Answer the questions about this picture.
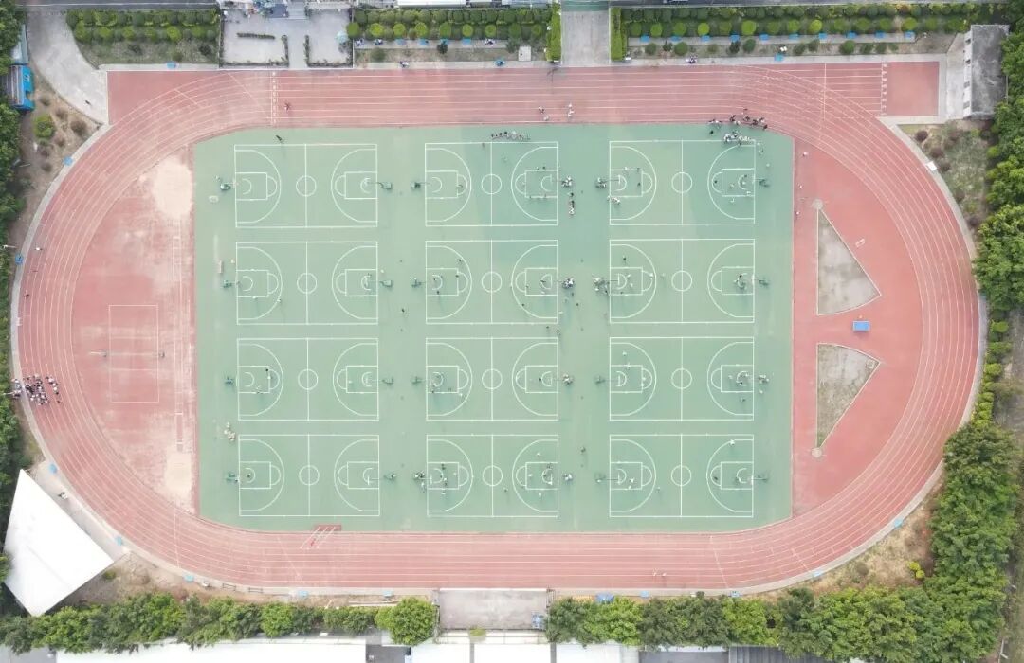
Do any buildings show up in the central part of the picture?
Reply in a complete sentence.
No, no building is visible in the central part of the picture.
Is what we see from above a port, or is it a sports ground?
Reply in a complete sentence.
The area seen from above is a sports ground.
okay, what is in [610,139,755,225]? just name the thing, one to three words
basketball court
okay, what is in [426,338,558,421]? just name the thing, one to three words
basketball court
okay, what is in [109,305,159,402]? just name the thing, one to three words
sports court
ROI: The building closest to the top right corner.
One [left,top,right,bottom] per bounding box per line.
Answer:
[964,23,1010,116]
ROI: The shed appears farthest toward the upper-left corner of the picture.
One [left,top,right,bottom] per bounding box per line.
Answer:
[12,24,36,66]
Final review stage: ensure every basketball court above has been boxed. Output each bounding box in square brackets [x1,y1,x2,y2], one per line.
[610,139,755,225]
[425,141,558,226]
[426,338,558,421]
[237,338,379,421]
[609,337,754,421]
[425,239,558,324]
[234,143,378,227]
[427,434,558,517]
[238,435,380,516]
[609,434,754,517]
[236,240,378,324]
[609,239,755,323]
